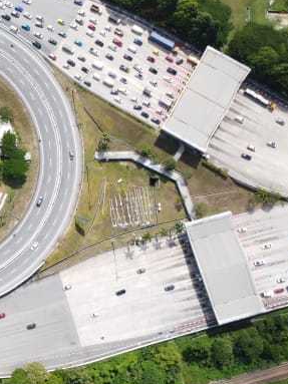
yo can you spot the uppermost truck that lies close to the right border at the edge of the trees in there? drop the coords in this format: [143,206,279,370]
[243,88,277,109]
